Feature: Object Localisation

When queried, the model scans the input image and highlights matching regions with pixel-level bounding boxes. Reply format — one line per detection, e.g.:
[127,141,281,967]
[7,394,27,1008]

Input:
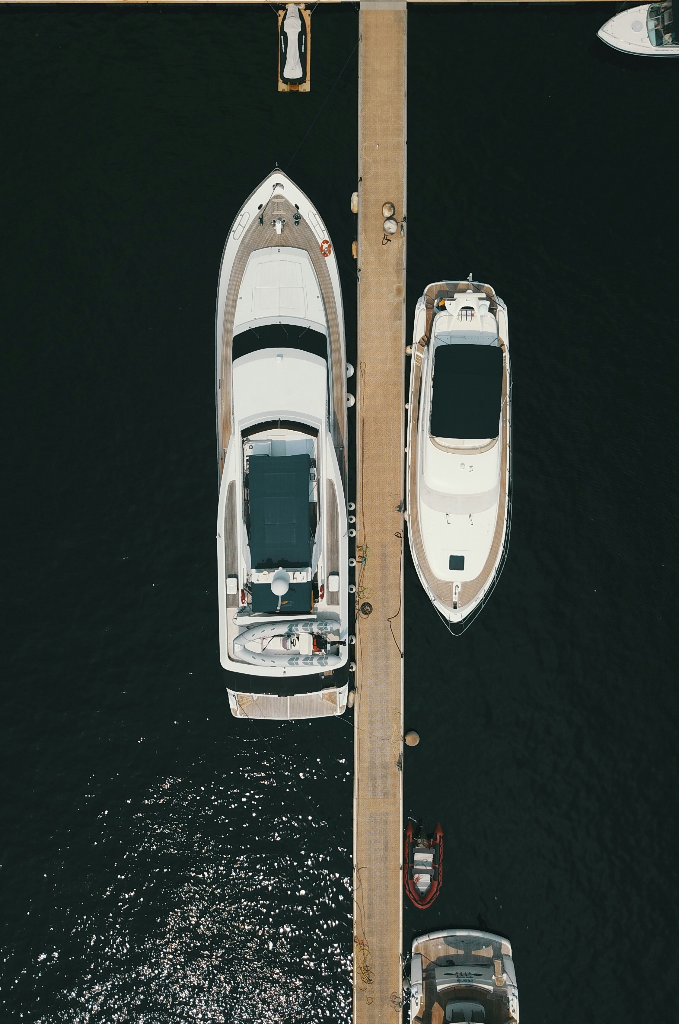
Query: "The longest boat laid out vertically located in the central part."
[215,162,350,719]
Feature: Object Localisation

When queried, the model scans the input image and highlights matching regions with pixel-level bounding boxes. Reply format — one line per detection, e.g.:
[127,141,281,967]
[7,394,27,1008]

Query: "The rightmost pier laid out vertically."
[353,11,408,1024]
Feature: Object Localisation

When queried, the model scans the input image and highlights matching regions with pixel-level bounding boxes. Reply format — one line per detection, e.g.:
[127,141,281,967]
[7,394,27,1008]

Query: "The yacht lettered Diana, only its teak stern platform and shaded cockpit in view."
[408,927,520,1024]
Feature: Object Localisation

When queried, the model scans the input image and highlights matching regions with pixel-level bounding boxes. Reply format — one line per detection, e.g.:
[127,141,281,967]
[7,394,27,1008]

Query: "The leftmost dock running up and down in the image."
[277,10,311,93]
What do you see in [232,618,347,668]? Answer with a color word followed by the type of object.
white boat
